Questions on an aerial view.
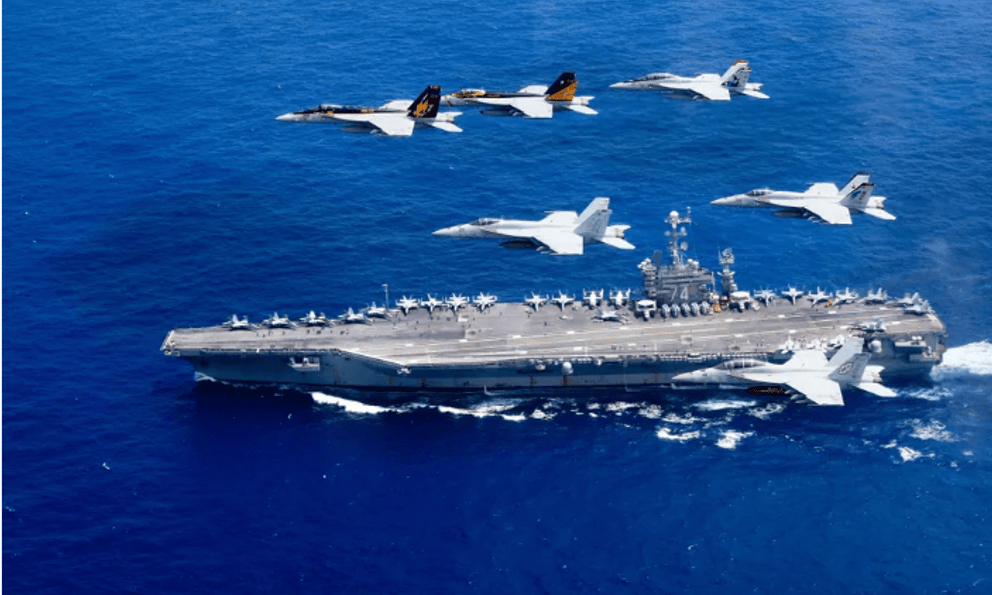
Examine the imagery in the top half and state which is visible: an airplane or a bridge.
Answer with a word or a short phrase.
airplane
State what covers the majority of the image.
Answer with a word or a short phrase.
water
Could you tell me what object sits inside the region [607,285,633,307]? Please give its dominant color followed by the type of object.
white airplane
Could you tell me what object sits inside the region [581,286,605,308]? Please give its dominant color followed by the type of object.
white airplane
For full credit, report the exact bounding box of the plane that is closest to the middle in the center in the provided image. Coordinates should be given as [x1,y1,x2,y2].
[472,289,493,308]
